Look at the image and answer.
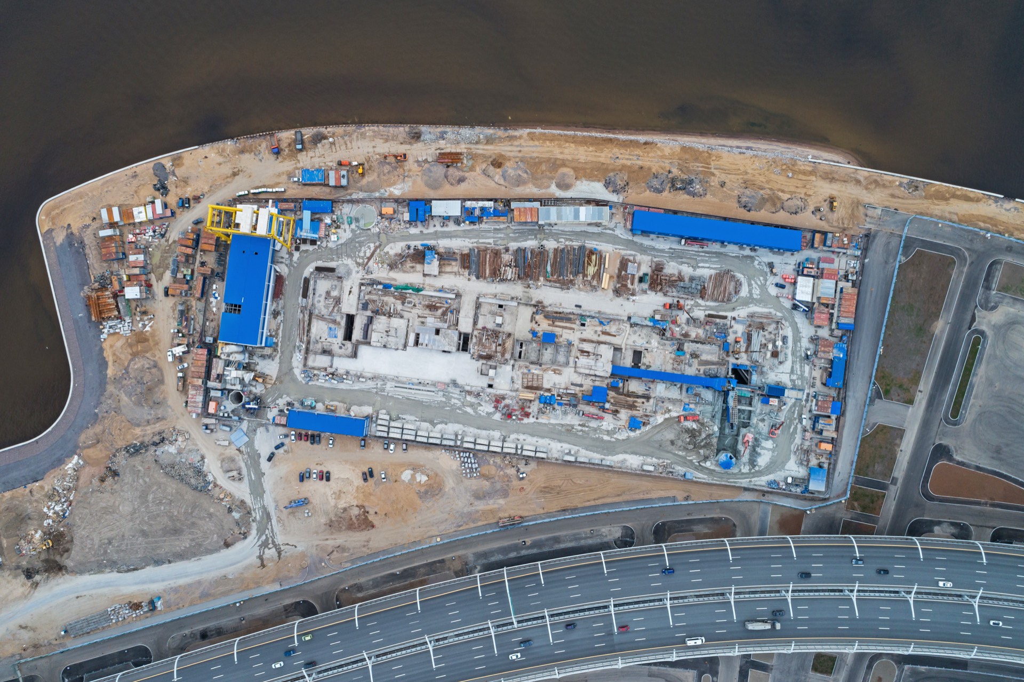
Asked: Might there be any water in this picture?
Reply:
Yes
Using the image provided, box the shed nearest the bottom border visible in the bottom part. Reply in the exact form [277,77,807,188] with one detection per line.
[805,466,827,491]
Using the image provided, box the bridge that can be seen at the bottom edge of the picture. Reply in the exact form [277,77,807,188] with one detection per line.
[84,533,1024,682]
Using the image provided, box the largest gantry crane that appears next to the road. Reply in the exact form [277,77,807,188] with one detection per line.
[203,204,295,250]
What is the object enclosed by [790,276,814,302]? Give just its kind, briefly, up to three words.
shed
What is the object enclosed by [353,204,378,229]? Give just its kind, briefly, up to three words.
water tank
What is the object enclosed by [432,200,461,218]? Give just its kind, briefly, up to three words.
shed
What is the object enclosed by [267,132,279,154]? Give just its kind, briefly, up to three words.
vehicle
